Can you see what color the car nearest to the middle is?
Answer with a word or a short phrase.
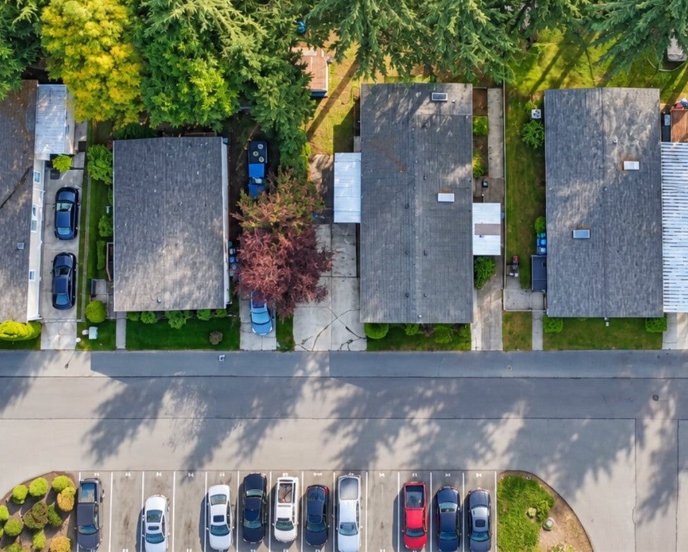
blue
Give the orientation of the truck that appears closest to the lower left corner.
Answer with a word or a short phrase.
up and down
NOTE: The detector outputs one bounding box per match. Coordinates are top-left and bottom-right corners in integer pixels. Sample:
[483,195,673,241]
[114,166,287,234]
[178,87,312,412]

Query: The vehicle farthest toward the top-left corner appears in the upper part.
[52,187,83,240]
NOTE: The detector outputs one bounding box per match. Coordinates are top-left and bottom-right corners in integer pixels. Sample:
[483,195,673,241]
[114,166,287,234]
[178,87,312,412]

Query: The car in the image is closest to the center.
[248,292,274,340]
